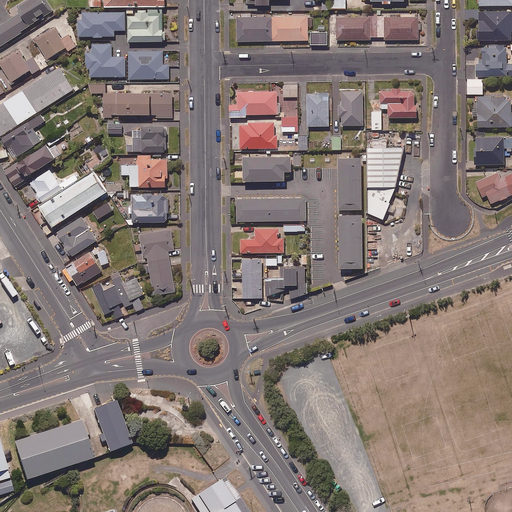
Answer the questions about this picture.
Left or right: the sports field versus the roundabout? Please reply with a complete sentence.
The roundabout has the sports field on its right side.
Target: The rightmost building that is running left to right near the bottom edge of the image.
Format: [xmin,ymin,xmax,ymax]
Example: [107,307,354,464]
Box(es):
[192,482,260,512]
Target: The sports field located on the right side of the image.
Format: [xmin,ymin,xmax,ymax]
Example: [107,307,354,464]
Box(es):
[332,288,512,512]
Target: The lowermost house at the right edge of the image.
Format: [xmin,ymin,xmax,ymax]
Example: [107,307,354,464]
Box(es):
[477,170,512,208]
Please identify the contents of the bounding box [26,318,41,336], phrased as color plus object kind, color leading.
white vehicle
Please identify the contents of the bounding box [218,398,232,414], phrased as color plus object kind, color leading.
white vehicle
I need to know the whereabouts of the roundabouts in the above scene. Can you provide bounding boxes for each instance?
[190,328,229,367]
